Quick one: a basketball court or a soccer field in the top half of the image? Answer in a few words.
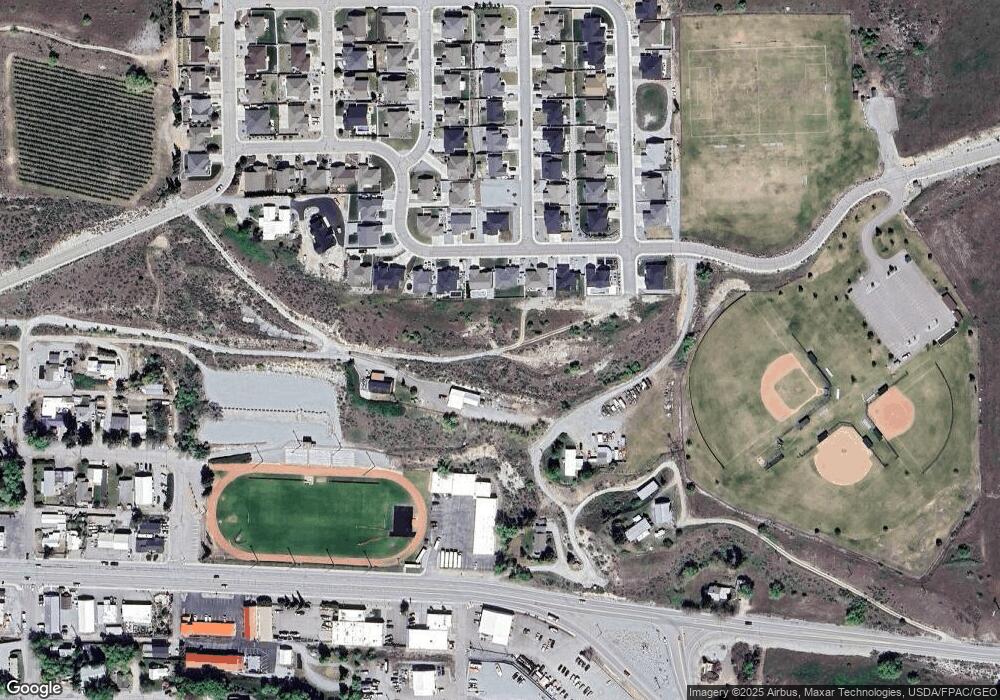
soccer field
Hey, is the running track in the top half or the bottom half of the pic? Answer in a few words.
bottom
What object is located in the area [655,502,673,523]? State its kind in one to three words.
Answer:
barn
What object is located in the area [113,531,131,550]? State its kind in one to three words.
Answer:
building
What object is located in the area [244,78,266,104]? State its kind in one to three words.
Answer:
house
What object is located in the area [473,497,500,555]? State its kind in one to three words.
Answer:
building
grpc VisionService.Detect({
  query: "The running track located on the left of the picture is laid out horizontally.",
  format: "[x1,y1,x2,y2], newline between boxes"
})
[207,464,428,566]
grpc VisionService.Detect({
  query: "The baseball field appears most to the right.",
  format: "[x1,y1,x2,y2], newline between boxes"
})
[868,388,915,439]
